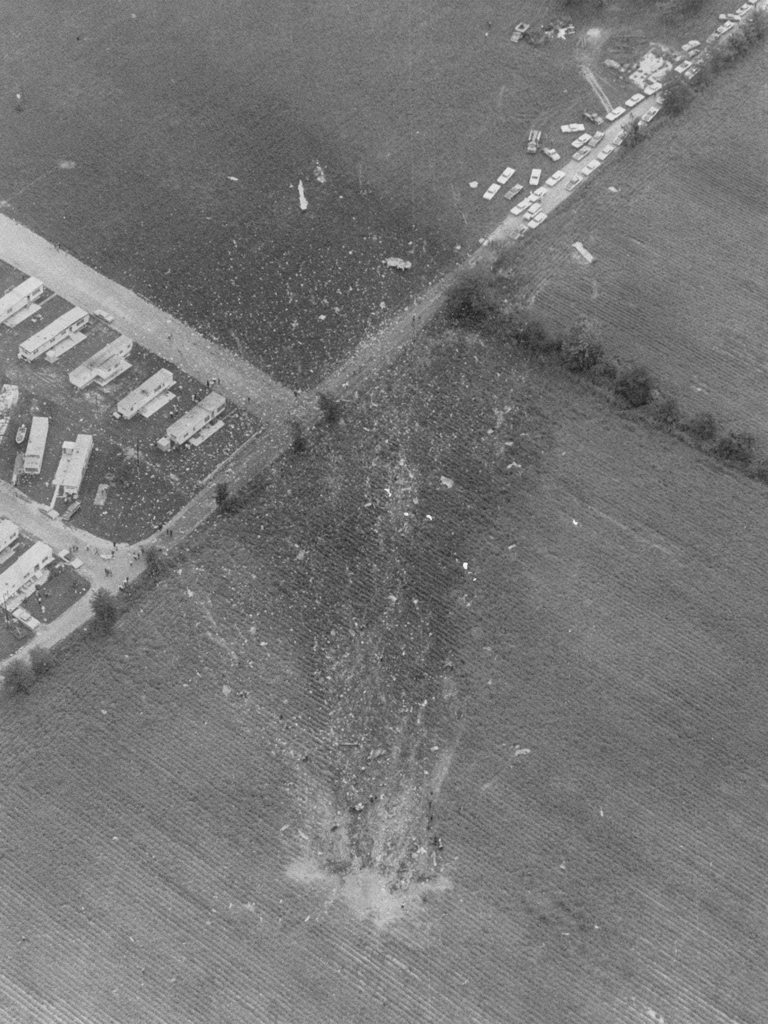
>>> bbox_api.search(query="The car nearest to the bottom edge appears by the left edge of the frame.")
[11,607,41,628]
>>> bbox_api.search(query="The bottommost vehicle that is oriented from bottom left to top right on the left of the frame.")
[60,499,83,523]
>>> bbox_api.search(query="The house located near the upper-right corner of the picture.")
[599,30,697,96]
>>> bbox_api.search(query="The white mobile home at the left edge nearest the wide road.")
[0,276,45,322]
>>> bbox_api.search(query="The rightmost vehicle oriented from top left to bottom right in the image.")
[583,108,606,126]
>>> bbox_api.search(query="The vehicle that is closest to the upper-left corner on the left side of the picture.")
[91,308,116,324]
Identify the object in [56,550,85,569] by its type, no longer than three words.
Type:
car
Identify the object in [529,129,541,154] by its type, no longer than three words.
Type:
vehicle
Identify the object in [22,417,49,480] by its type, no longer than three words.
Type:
house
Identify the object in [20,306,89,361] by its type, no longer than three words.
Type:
house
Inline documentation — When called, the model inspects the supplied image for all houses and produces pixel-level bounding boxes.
[20,306,89,361]
[0,540,54,606]
[115,366,174,421]
[0,276,45,322]
[22,417,49,480]
[0,385,25,435]
[0,519,20,553]
[599,30,697,96]
[70,334,133,388]
[167,391,227,445]
[53,434,94,500]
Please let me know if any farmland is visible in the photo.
Yes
